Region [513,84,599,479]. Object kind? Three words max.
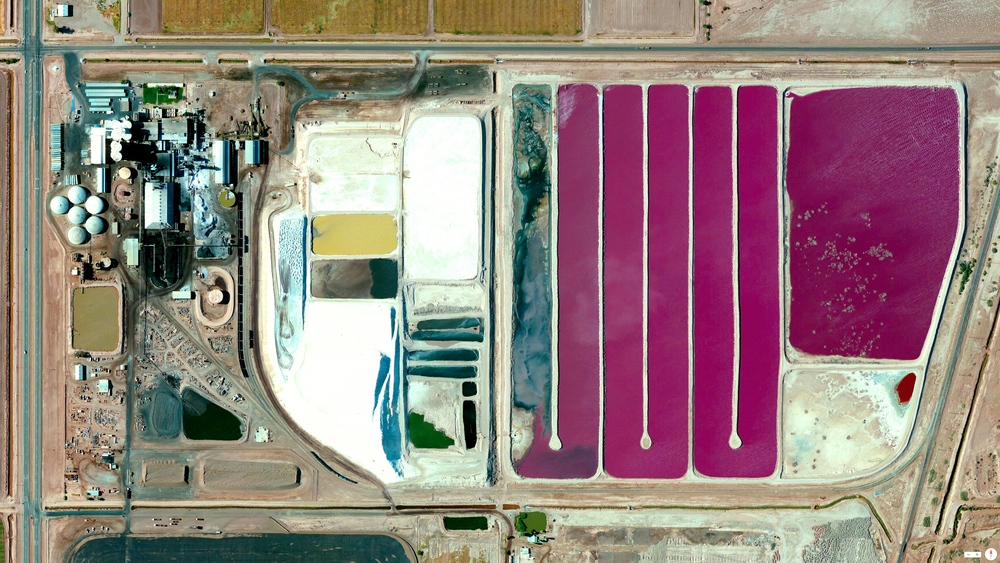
pond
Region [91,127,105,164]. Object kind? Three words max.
building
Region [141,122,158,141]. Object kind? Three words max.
building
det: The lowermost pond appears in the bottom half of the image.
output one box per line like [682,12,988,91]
[69,535,411,563]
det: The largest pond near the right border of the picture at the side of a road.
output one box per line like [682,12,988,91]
[785,87,959,359]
